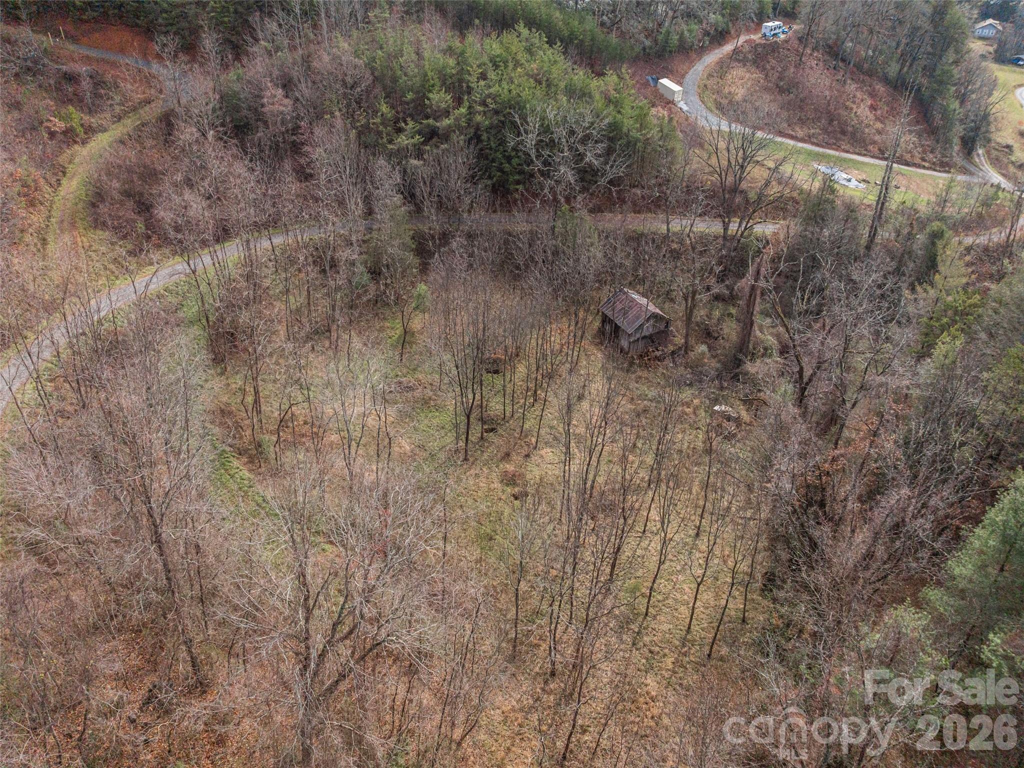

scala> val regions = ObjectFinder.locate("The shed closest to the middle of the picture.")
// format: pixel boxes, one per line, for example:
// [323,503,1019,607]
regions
[596,289,672,359]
